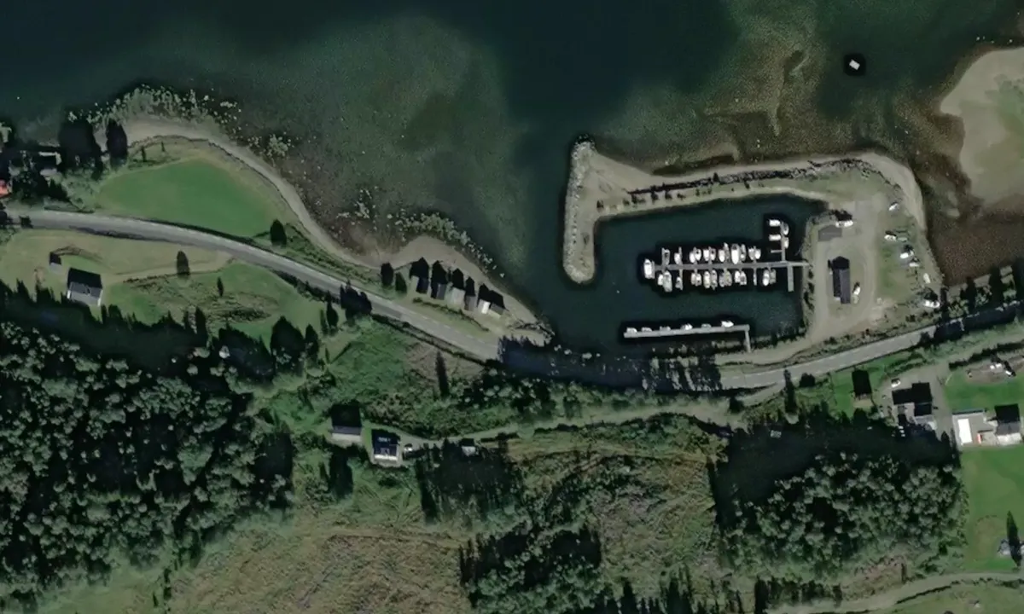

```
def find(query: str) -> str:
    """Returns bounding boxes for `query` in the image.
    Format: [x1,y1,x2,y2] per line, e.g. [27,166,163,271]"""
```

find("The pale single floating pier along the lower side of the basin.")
[624,325,751,352]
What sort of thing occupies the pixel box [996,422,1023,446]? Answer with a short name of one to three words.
house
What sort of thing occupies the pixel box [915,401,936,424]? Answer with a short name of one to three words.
house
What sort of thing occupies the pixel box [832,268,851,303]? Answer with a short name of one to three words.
shed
